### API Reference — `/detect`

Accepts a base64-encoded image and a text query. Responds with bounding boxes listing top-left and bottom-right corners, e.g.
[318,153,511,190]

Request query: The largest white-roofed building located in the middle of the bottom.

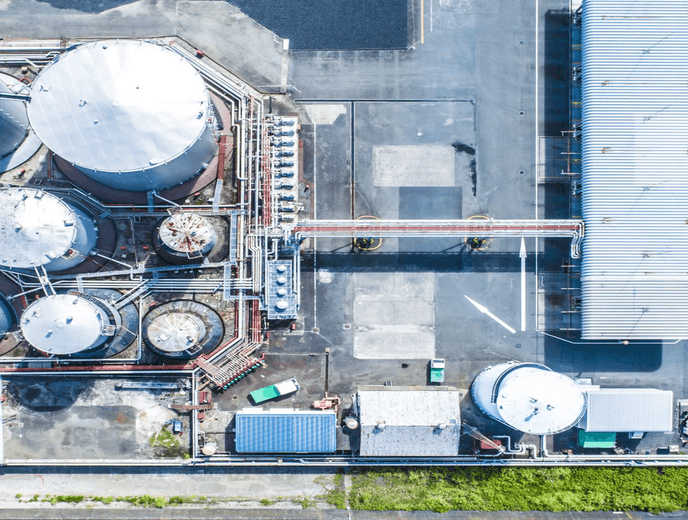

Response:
[356,380,462,456]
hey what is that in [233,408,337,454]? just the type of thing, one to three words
building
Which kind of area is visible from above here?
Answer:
industrial area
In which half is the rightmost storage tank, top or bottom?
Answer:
bottom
